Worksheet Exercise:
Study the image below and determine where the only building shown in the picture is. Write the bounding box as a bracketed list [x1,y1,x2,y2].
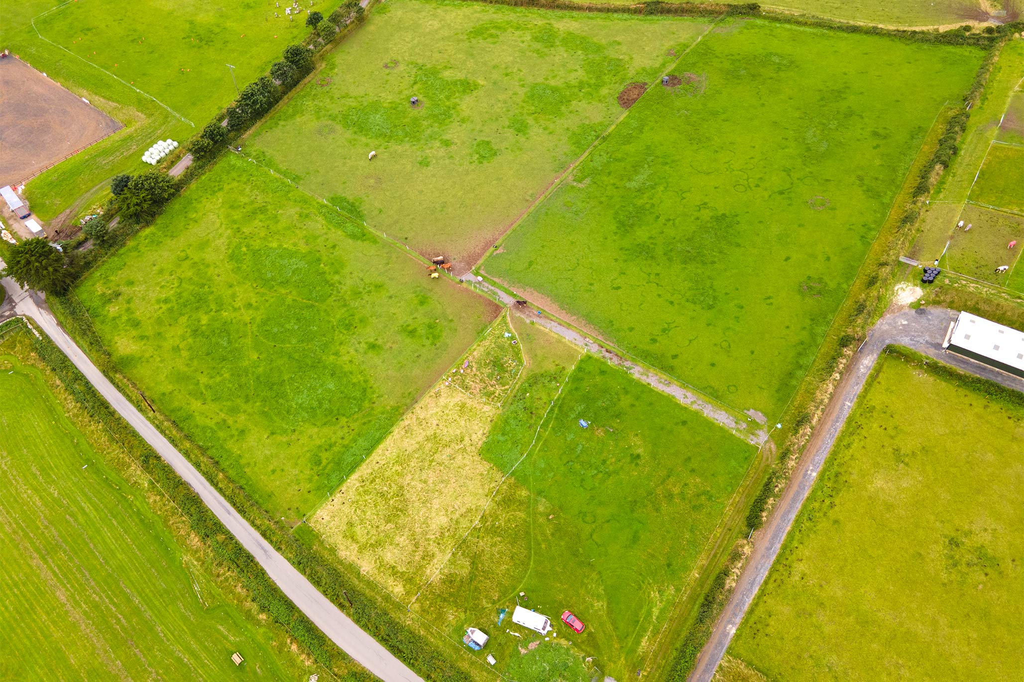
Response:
[946,310,1024,381]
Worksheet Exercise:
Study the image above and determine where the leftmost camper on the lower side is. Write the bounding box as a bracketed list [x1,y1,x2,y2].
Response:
[464,628,489,648]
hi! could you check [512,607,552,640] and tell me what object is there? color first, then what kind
white camper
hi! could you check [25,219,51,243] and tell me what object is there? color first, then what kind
white truck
